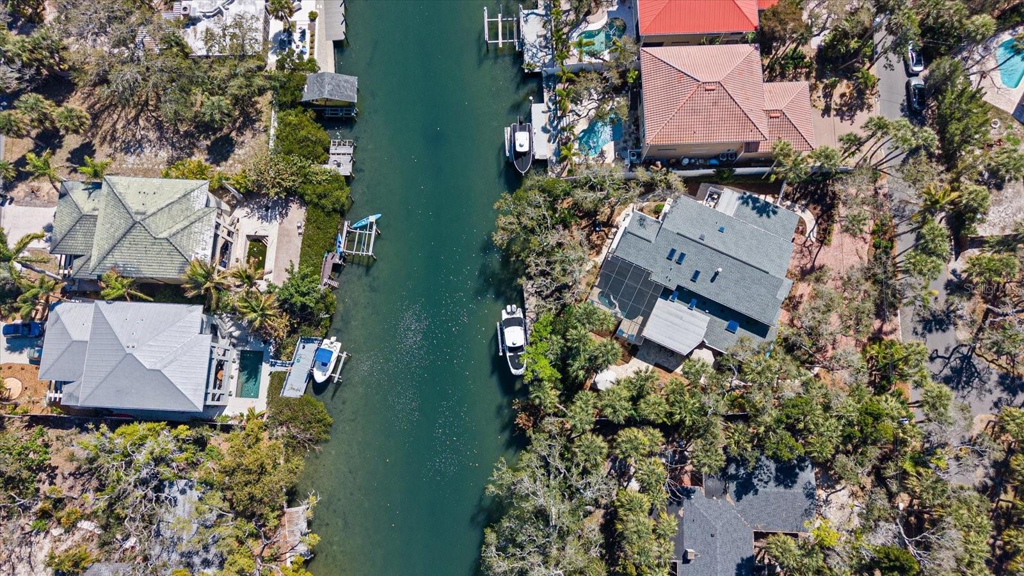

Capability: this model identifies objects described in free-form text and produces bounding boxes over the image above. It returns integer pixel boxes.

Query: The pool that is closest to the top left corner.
[242,233,270,274]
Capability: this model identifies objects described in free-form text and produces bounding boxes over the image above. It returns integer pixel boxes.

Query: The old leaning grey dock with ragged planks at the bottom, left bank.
[284,506,318,563]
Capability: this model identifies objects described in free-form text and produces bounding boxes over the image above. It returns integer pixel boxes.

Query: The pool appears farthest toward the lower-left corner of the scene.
[233,348,265,400]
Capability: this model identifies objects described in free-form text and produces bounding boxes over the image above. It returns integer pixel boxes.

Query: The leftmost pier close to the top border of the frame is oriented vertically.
[325,0,345,42]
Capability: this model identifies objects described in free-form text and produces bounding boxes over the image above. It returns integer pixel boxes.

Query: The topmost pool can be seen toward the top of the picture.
[573,11,633,61]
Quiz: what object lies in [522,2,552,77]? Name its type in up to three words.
pier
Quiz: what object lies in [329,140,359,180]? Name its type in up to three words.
pier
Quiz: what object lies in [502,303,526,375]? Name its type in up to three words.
boat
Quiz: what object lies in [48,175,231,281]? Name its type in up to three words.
house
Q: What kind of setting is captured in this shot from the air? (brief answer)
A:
residential area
